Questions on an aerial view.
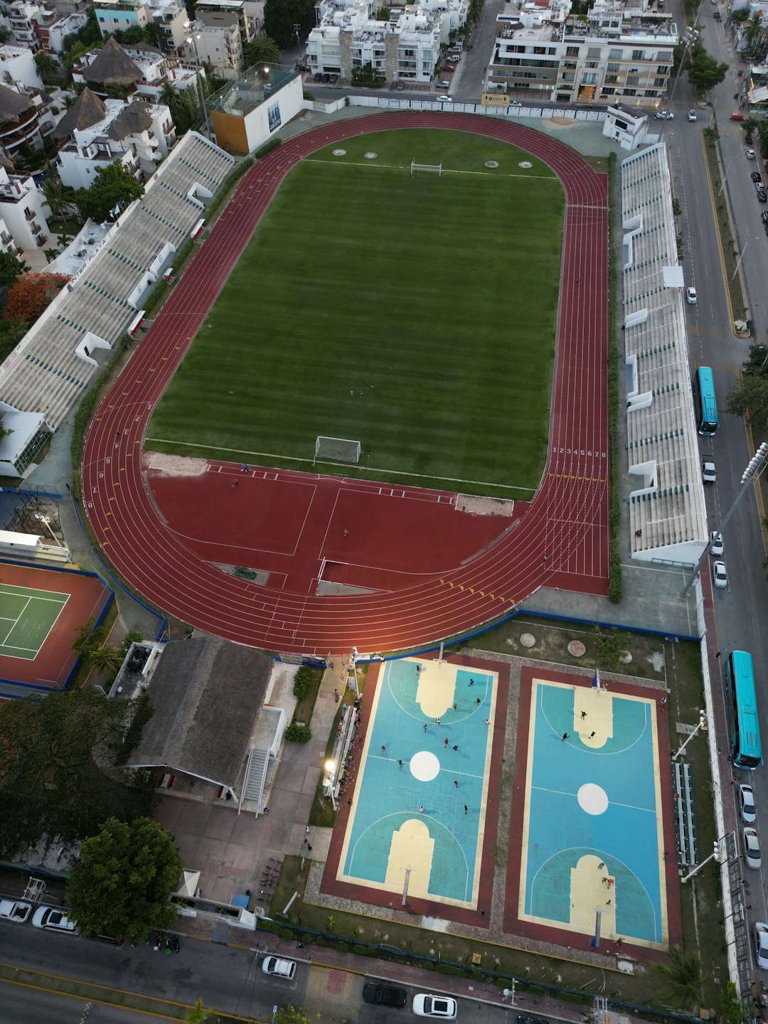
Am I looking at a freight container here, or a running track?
running track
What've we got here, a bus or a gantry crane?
bus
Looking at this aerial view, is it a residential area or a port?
residential area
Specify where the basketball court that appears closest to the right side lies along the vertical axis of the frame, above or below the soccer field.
below it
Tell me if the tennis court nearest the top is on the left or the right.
left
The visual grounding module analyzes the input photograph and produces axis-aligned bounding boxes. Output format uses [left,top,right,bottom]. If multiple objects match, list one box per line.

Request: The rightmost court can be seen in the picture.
[499,667,684,971]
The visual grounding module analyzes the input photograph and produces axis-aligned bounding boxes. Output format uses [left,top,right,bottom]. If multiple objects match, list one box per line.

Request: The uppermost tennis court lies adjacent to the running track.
[0,565,106,683]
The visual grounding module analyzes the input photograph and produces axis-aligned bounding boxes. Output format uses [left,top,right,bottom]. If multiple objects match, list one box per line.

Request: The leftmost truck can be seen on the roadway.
[0,898,35,925]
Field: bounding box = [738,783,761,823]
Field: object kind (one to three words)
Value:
car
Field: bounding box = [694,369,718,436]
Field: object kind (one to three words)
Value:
bus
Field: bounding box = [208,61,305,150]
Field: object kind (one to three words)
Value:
building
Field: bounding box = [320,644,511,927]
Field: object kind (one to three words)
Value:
basketball court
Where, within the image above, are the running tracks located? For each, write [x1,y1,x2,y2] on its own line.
[79,112,610,659]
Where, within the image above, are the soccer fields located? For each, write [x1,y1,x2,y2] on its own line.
[143,128,566,502]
